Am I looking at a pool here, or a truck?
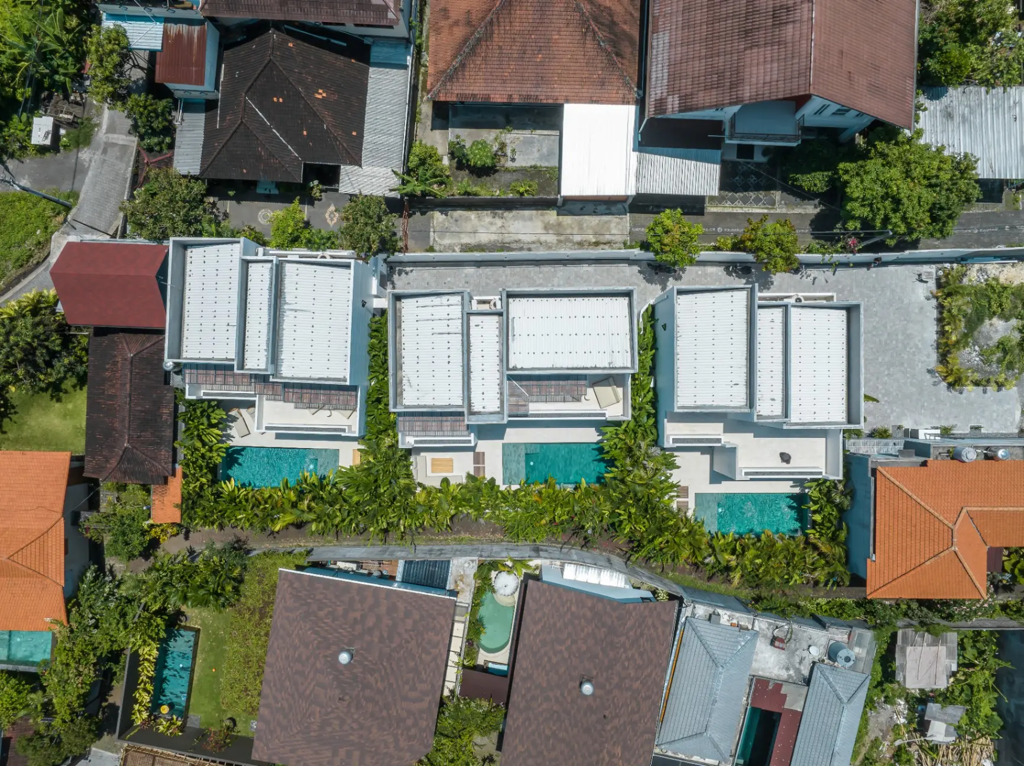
pool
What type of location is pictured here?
residential area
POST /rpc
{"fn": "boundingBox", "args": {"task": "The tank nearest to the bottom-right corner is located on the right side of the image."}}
[823,638,855,668]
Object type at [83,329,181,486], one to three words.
house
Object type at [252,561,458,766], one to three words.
house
